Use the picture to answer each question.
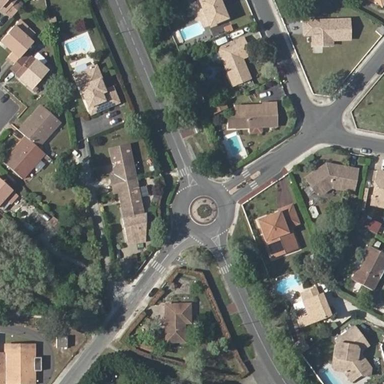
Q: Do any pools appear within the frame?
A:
Yes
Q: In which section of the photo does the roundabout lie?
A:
center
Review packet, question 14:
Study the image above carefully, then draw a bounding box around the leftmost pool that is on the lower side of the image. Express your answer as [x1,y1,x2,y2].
[276,274,300,294]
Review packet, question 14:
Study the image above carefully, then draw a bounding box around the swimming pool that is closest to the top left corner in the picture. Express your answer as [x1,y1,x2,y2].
[66,32,92,56]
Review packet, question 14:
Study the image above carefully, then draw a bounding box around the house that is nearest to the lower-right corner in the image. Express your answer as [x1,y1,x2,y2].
[334,326,374,383]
